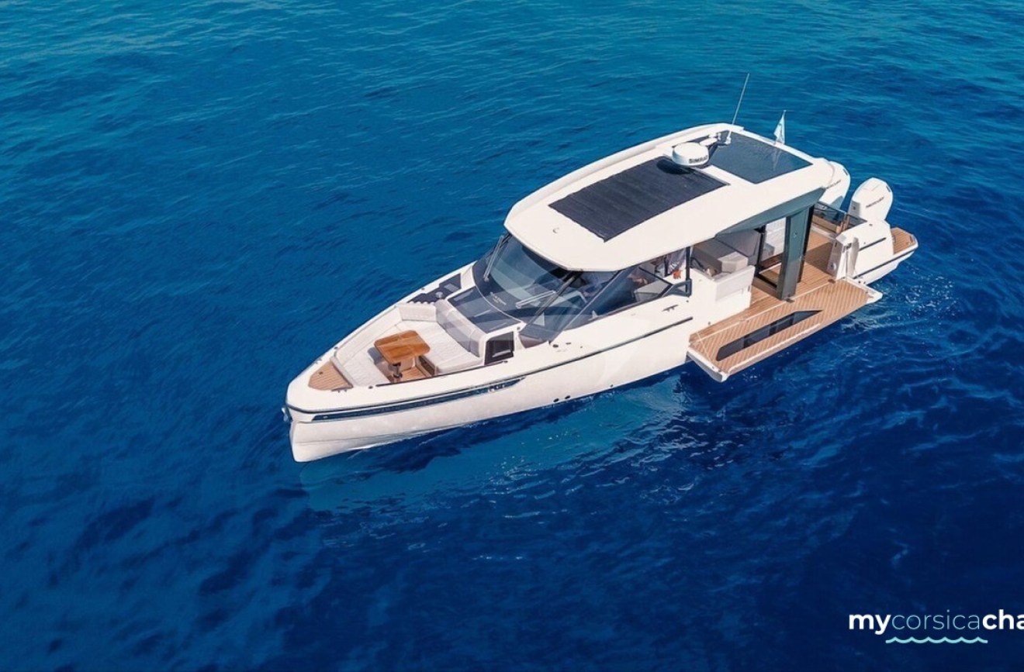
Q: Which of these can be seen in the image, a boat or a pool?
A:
boat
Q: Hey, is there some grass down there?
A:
No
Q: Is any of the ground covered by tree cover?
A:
No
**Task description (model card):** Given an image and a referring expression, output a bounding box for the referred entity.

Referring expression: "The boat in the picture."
[279,74,917,462]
